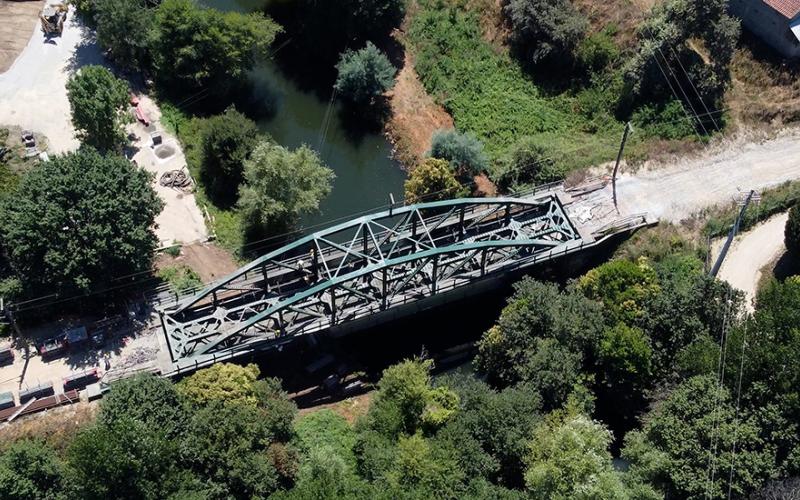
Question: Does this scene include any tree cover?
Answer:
Yes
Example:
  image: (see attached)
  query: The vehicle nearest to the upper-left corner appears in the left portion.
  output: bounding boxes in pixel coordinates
[34,0,67,47]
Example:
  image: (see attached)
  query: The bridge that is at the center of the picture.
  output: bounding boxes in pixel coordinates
[126,174,616,392]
